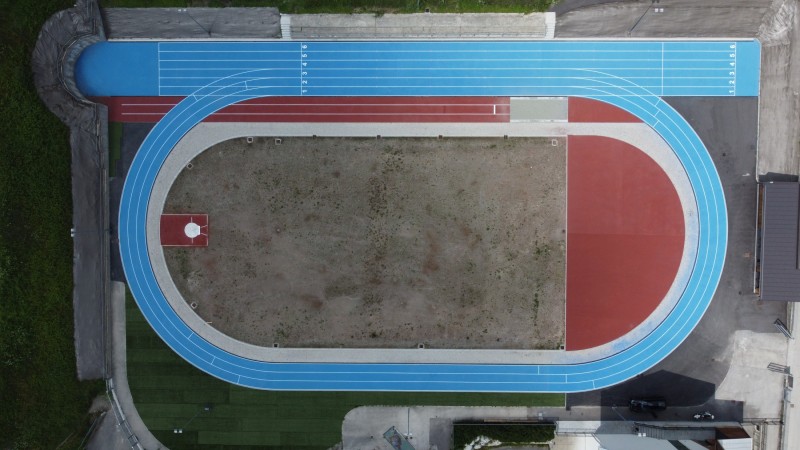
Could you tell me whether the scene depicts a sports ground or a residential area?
sports ground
